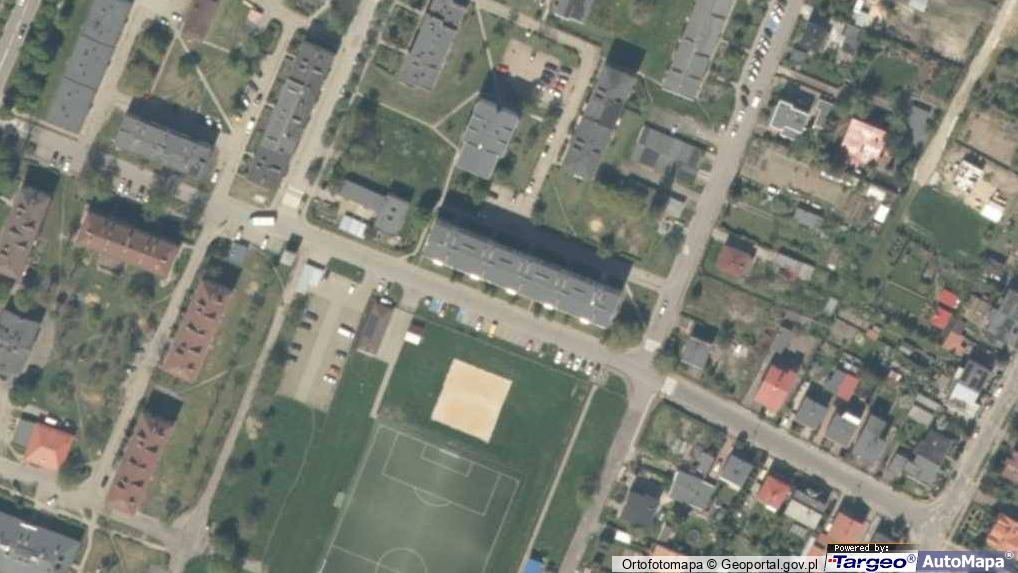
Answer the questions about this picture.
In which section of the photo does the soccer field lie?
bottom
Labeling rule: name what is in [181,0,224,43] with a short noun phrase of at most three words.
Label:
building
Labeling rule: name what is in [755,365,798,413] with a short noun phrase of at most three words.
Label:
house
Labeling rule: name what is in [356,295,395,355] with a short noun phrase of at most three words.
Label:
shed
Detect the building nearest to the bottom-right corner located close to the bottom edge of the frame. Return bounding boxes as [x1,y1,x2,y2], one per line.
[987,513,1018,552]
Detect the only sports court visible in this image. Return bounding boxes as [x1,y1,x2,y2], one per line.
[432,359,513,443]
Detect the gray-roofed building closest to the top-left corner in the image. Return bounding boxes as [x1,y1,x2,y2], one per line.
[46,0,136,137]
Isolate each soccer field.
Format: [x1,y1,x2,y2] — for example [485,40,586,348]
[315,420,524,573]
